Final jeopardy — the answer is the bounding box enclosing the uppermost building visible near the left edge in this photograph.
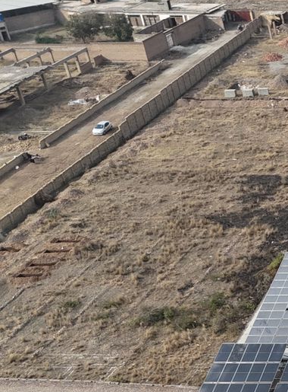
[0,0,65,43]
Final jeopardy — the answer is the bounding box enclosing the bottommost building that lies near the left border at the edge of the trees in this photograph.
[0,48,92,120]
